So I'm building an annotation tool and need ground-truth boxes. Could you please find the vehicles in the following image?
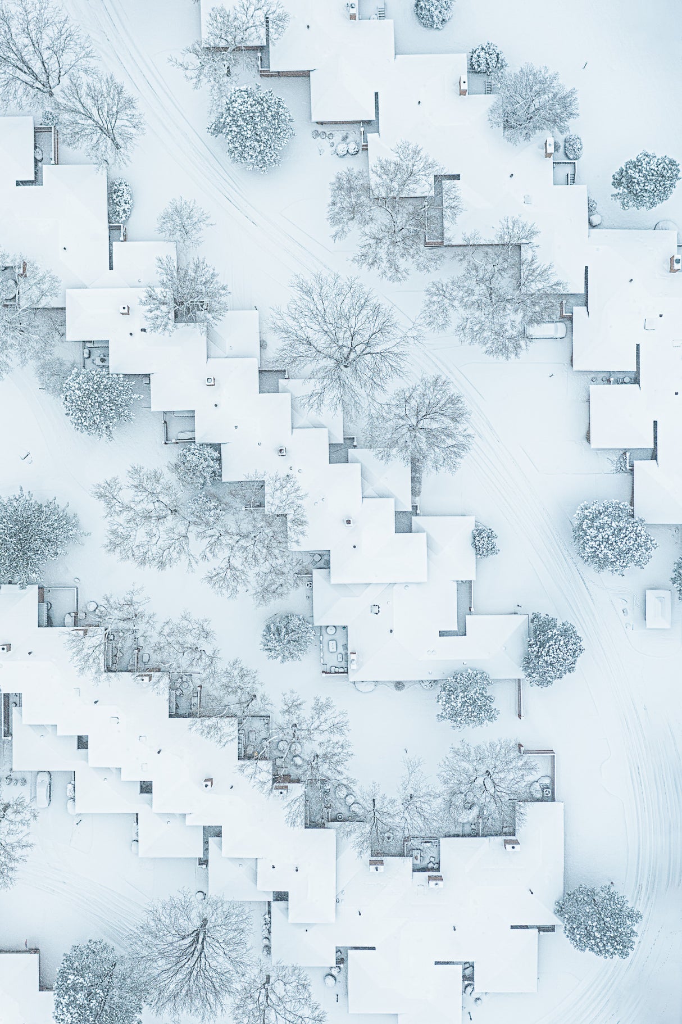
[35,771,54,808]
[525,321,565,340]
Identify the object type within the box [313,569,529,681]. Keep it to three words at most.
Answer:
house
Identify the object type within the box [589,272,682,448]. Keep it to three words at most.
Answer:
house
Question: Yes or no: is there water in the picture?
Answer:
No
